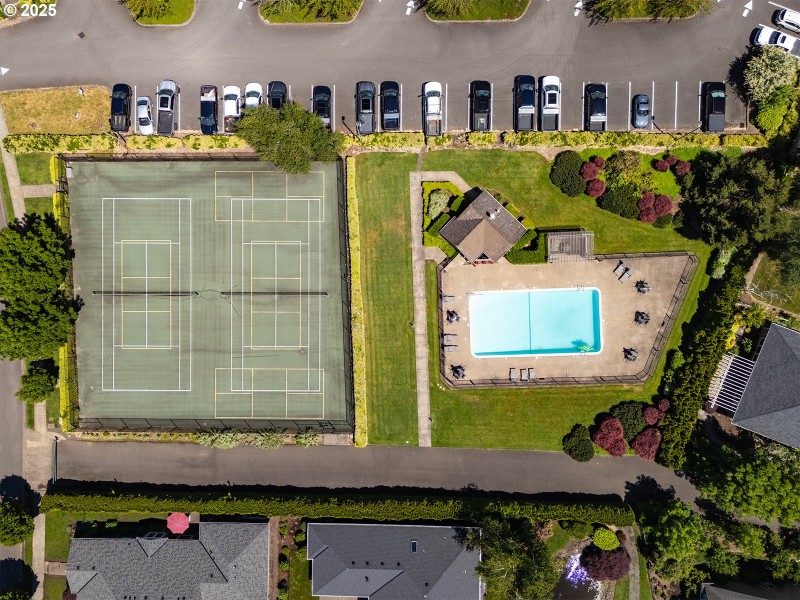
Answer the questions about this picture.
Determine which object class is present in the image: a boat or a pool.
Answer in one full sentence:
Looking from above, you can make out a pool.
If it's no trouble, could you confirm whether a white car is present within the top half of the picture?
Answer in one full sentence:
Yes, a white car can be seen within the top half of the picture.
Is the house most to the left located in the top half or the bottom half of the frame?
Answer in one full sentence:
The house most to the left sits in the bottom half of the picture.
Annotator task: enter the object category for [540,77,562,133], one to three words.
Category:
truck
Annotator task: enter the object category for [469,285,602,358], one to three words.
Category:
swimming pool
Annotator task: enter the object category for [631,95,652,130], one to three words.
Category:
car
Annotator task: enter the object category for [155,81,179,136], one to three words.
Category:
truck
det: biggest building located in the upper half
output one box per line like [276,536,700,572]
[442,190,527,265]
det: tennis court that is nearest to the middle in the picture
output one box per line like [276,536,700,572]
[197,162,352,427]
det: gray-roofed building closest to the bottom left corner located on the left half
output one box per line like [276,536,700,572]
[64,517,270,600]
